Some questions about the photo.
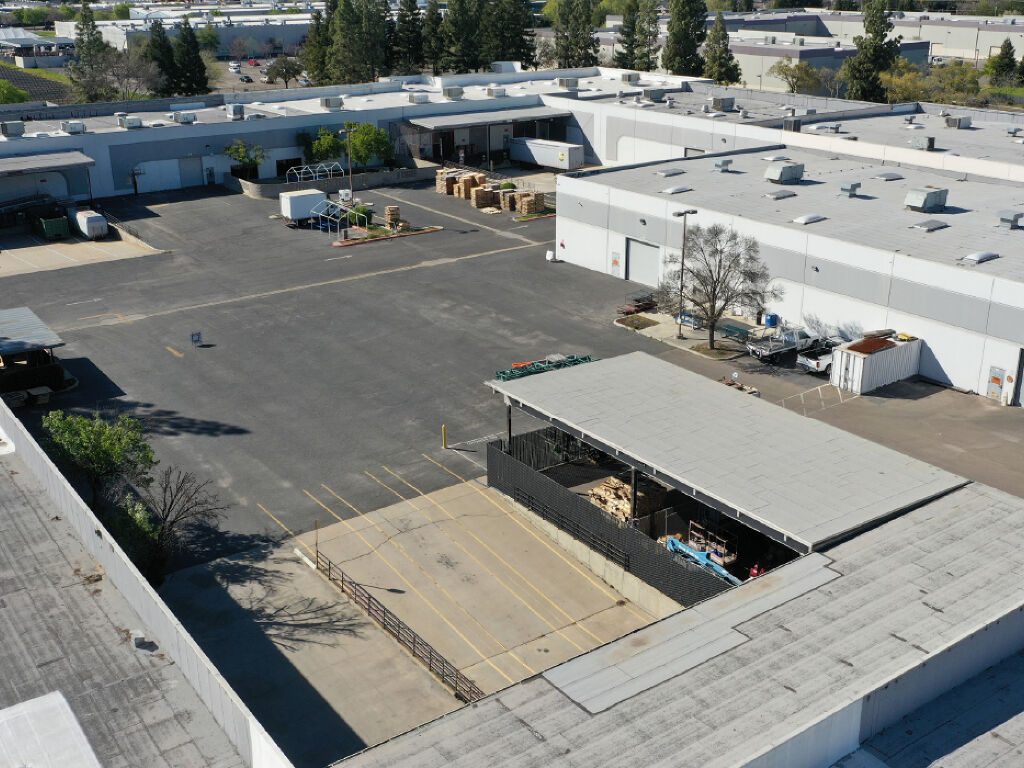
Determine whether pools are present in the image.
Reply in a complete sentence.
No, no pool is visible in the view.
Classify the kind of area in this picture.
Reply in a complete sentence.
What you see here is an industrial area.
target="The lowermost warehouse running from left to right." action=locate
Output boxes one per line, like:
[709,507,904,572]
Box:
[314,479,1024,768]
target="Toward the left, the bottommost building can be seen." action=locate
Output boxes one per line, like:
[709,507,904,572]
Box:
[0,399,294,768]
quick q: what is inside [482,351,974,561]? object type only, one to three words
shed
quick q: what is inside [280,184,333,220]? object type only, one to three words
trailer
